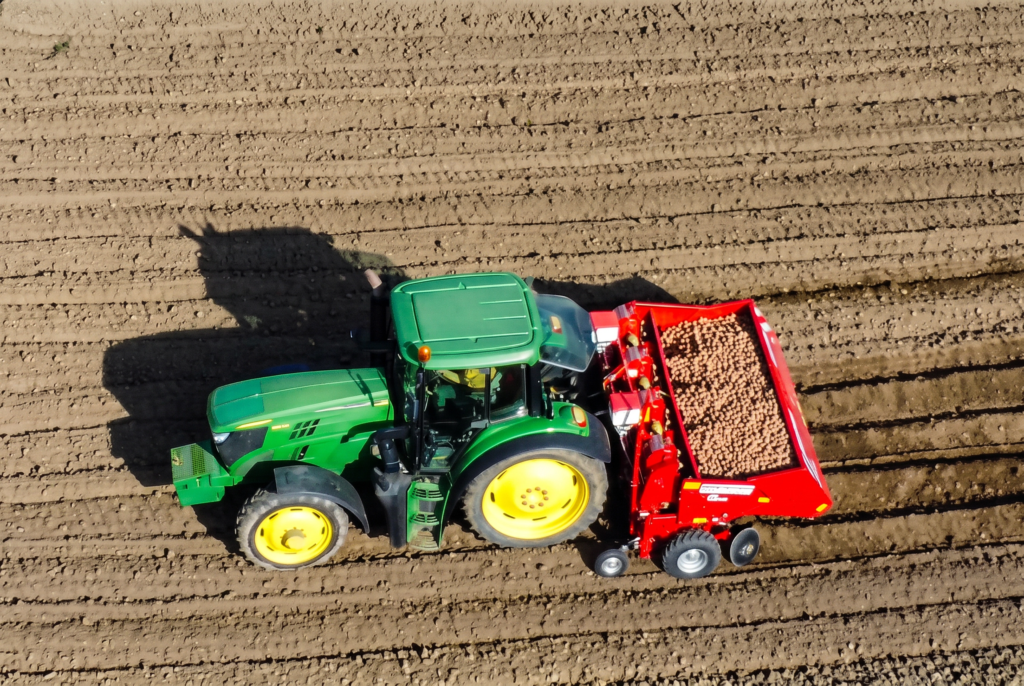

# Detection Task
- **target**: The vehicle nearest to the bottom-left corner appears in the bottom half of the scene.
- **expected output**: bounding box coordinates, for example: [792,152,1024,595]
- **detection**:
[170,268,627,573]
